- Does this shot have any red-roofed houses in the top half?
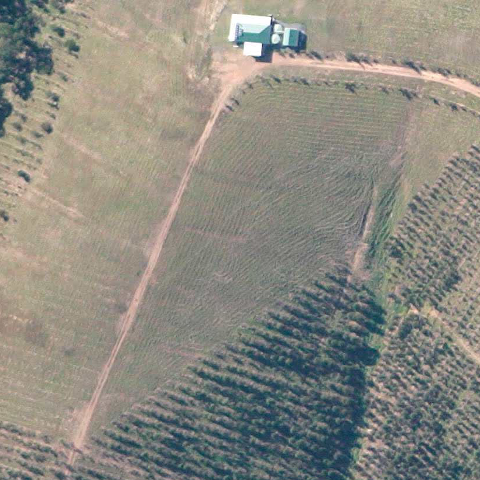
No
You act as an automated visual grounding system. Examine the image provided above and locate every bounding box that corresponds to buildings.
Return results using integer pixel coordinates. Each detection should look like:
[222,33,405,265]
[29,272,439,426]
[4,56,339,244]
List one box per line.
[229,14,272,44]
[283,28,298,46]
